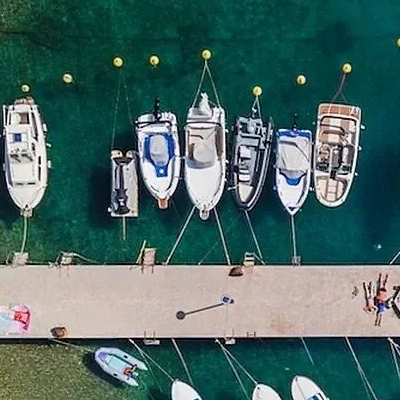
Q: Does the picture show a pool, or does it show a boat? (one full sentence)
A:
I can see a boat in this picture.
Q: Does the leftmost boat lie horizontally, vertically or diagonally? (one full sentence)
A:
The leftmost boat is oriented vertically.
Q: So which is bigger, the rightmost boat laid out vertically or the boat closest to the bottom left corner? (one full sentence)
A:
The boat closest to the bottom left corner is smaller than the rightmost boat laid out vertically.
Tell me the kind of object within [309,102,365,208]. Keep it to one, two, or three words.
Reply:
boat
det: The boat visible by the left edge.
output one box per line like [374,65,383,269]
[1,97,52,220]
